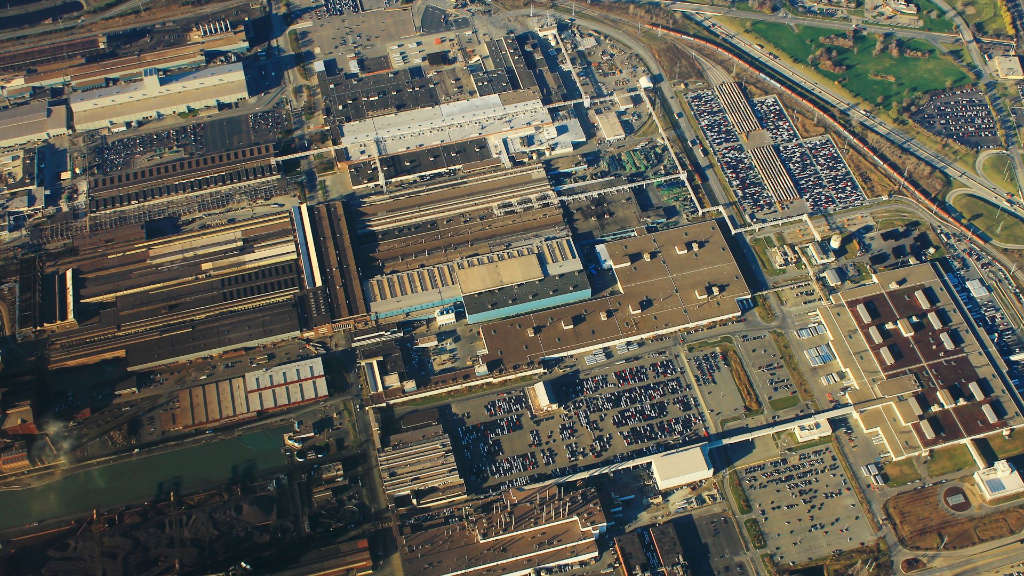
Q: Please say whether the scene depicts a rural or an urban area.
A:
urban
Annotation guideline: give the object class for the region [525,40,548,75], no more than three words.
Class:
house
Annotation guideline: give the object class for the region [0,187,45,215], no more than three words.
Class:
building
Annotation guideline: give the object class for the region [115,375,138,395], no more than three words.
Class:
shed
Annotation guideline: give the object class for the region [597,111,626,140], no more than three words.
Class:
building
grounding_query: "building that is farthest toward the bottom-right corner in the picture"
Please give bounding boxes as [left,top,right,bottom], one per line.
[972,460,1024,500]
